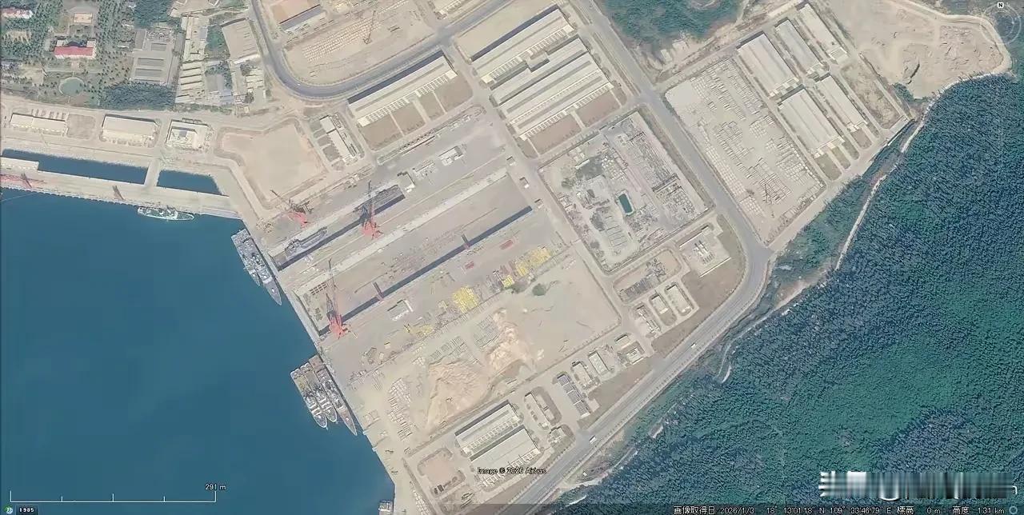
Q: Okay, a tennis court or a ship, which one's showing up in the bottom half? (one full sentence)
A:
The feature located in the bottom half is a ship.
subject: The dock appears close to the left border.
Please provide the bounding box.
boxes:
[0,157,240,218]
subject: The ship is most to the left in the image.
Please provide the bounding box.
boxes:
[137,207,196,220]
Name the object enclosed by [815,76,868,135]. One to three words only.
building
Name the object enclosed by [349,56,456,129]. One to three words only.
building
